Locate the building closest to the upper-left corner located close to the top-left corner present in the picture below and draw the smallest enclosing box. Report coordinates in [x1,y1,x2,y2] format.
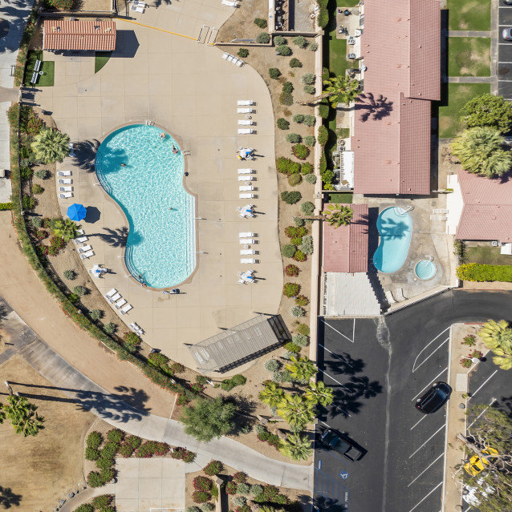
[43,19,116,54]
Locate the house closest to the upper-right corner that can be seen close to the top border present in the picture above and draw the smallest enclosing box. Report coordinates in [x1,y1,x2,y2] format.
[356,0,441,100]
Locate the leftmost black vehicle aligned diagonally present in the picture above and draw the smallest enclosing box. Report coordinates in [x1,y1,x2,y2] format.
[318,427,368,468]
